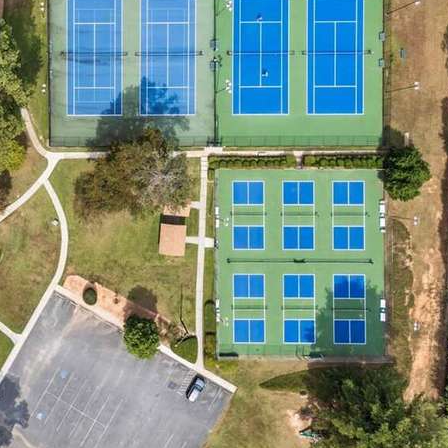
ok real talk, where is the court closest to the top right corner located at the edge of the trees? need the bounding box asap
[299,0,384,145]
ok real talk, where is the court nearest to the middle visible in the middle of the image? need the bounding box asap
[216,170,274,262]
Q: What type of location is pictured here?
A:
sports ground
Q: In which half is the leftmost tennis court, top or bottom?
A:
top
